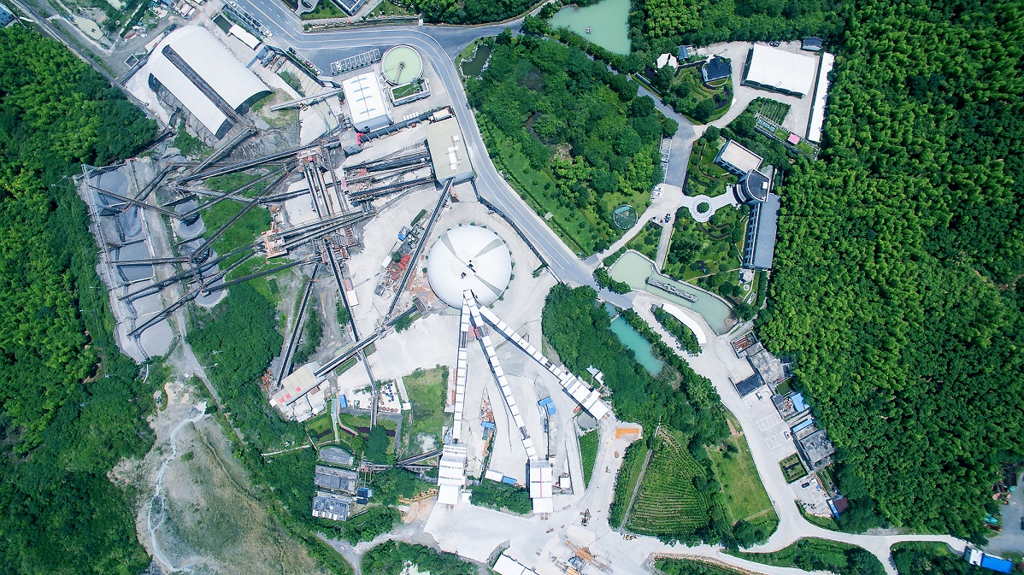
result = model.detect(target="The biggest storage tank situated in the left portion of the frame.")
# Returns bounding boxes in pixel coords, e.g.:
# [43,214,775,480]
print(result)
[380,41,424,85]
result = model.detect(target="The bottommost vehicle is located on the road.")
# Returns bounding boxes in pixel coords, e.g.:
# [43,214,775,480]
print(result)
[568,556,587,573]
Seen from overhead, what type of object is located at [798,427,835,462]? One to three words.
house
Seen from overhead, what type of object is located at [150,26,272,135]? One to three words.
shed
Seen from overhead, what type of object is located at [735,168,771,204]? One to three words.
building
